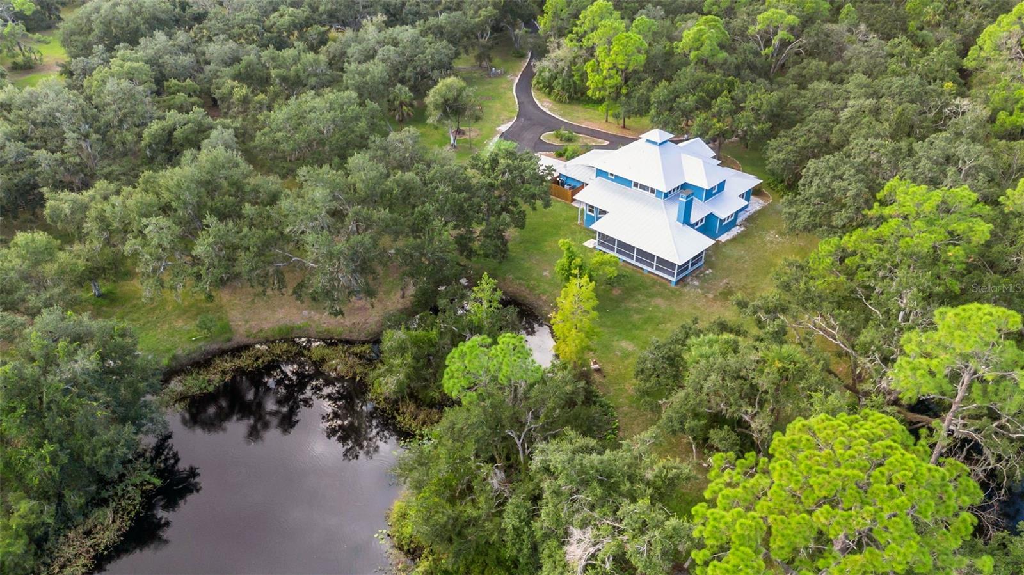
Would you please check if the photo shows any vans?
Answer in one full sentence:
No, there appears to be no van in this shot.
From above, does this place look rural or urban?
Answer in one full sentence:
The area shown here is rural.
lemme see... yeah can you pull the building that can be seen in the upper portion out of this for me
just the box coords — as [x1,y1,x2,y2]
[525,128,763,281]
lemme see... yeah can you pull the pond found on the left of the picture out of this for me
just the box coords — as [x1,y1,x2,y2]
[80,290,557,575]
